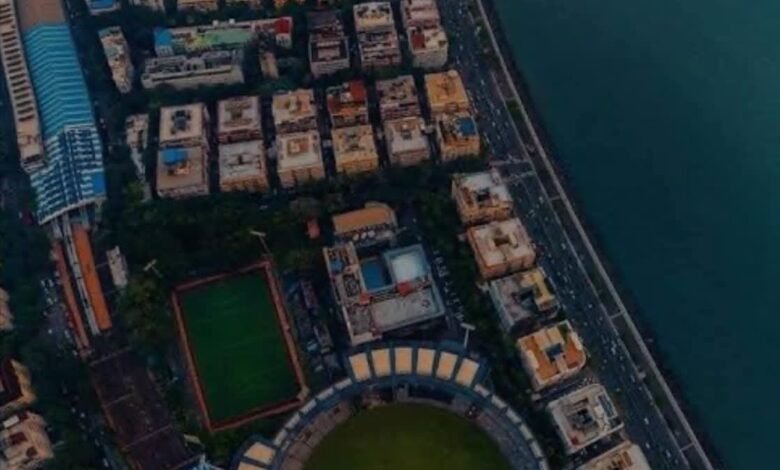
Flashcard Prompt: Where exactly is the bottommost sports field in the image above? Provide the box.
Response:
[303,401,510,470]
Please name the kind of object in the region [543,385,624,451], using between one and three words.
building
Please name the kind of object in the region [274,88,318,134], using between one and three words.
building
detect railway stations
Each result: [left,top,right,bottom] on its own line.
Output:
[19,0,110,226]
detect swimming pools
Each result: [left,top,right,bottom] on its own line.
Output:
[363,262,389,289]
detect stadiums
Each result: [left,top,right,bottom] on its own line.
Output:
[233,341,561,470]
